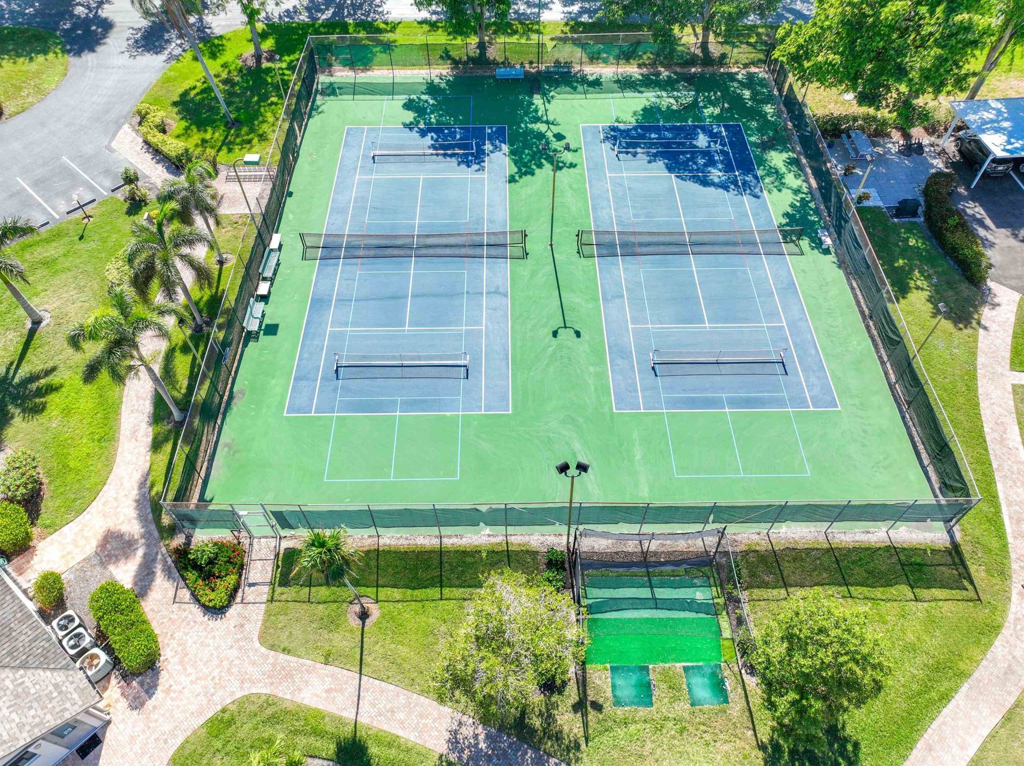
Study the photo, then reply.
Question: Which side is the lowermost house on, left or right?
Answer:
left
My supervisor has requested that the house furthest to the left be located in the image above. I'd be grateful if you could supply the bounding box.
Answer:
[0,562,110,766]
